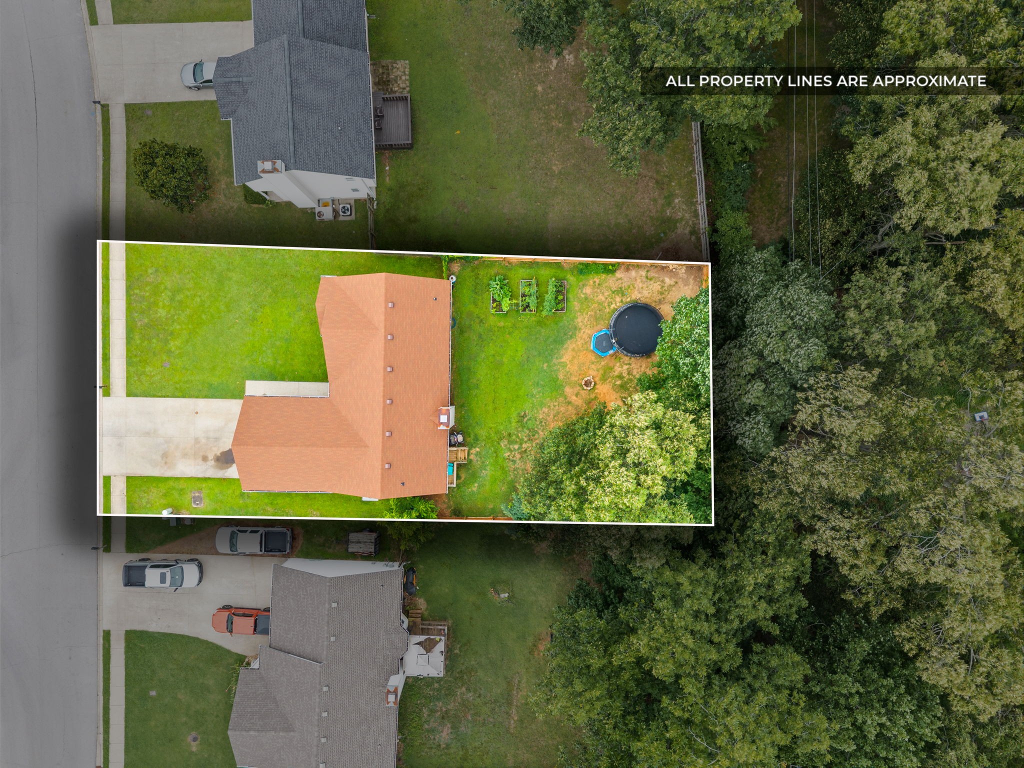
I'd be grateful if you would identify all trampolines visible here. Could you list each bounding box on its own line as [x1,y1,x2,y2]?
[607,300,664,361]
[590,328,617,358]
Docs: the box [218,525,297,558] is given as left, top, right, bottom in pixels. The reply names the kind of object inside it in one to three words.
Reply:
truck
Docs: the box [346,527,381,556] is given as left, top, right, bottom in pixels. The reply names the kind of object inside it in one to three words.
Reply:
trailer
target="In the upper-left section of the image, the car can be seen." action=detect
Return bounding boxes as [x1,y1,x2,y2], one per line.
[181,59,216,92]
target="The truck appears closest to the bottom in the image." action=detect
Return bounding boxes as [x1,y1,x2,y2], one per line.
[212,603,269,639]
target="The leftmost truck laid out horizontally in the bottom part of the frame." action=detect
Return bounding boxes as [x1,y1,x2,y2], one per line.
[124,559,207,595]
